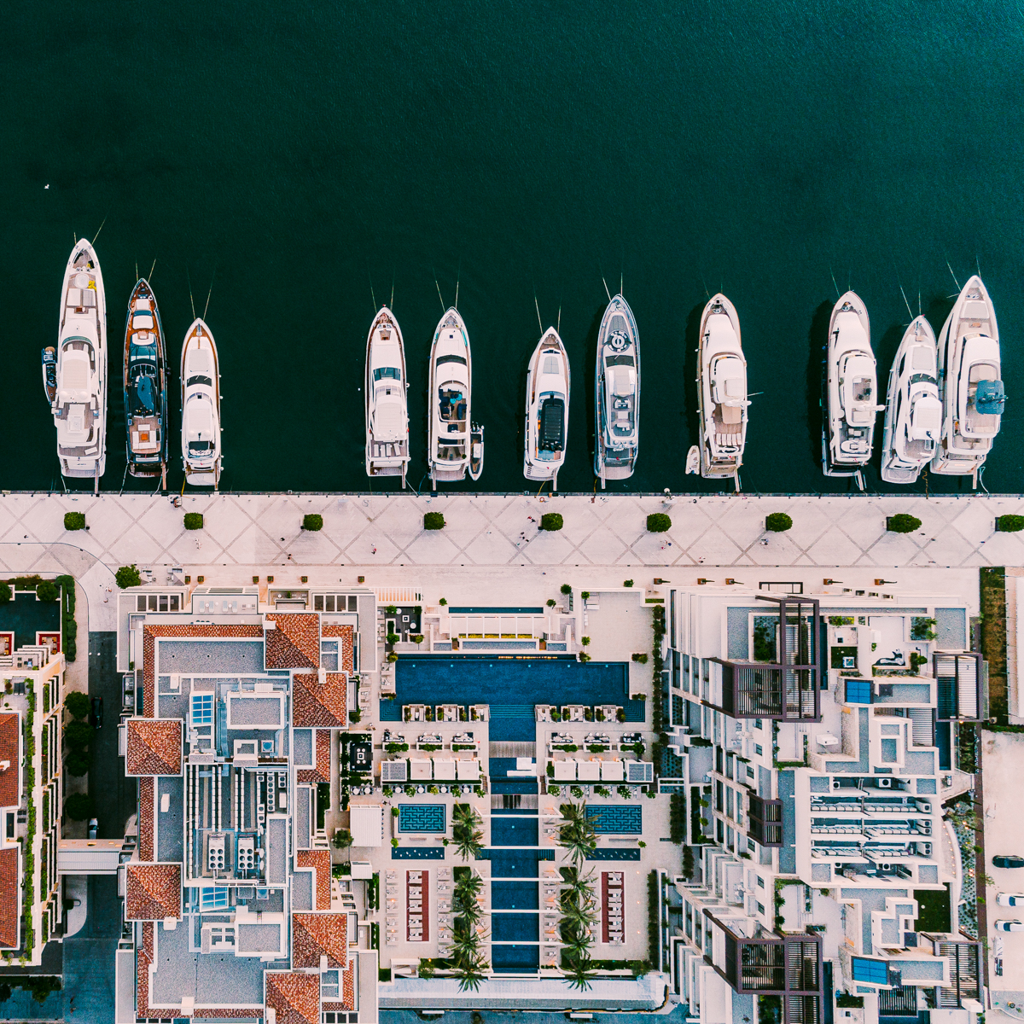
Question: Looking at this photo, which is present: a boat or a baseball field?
boat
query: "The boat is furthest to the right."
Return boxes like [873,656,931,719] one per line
[923,260,1008,494]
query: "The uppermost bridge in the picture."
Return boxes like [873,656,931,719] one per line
[488,741,537,758]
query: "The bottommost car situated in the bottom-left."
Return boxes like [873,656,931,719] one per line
[86,819,100,841]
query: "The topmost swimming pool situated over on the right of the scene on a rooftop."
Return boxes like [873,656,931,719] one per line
[811,616,828,689]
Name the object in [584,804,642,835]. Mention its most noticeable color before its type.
blue swimming pool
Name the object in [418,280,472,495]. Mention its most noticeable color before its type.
white boat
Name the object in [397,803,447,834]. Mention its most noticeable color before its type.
blue swimming pool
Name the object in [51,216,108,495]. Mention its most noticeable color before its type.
white boat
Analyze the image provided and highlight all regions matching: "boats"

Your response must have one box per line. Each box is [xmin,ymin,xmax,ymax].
[695,280,763,495]
[814,272,889,495]
[365,275,418,495]
[470,425,484,481]
[878,287,943,496]
[685,445,700,475]
[119,263,171,495]
[591,278,642,494]
[418,280,472,495]
[179,269,224,495]
[42,346,58,405]
[923,260,1008,494]
[517,299,571,495]
[51,216,108,495]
